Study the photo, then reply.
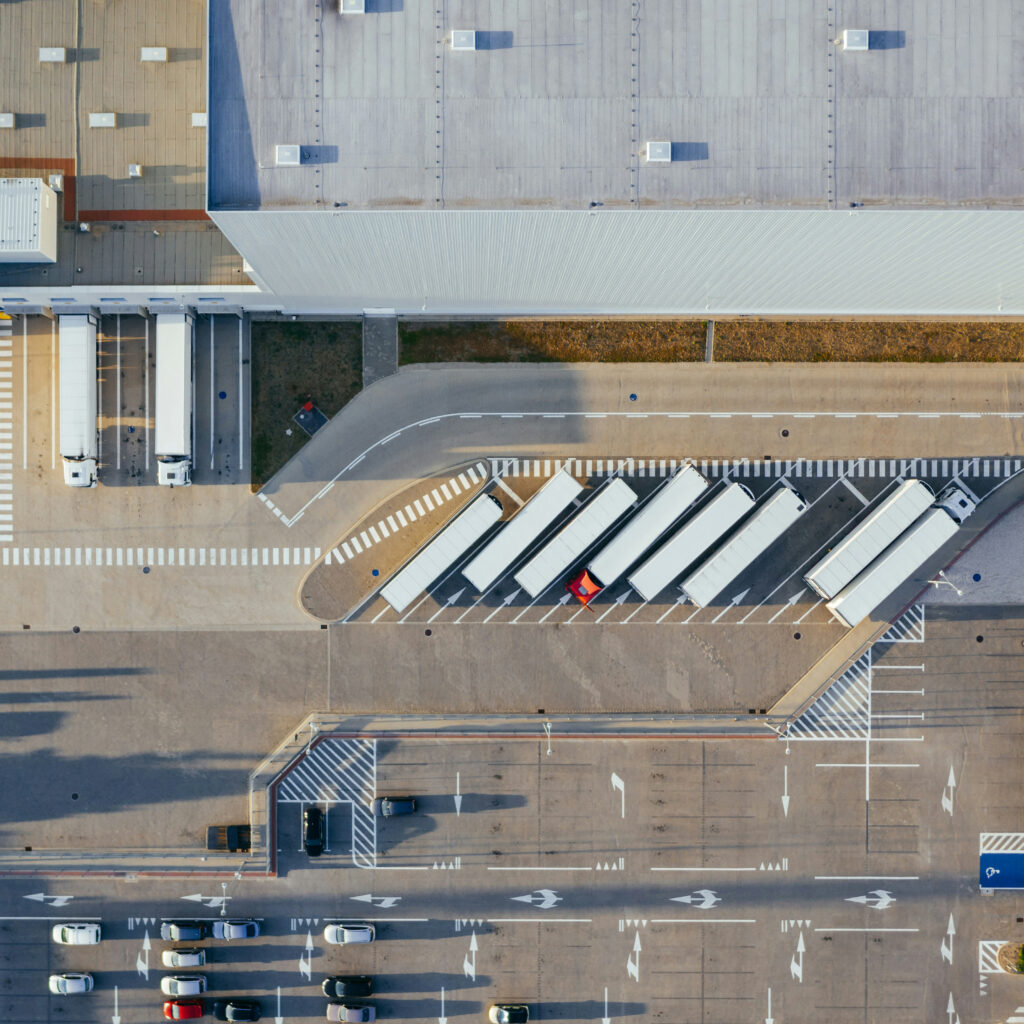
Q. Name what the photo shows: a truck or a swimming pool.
truck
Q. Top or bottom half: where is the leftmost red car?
bottom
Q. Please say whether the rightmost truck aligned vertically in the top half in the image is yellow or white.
white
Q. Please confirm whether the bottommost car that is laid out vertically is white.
No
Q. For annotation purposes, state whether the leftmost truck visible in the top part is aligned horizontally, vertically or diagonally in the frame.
vertically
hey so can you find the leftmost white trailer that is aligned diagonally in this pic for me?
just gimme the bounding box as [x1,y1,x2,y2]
[381,492,502,612]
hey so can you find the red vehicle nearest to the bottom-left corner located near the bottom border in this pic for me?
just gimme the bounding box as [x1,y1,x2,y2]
[164,998,206,1022]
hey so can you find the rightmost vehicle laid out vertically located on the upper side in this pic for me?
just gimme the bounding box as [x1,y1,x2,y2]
[157,315,194,486]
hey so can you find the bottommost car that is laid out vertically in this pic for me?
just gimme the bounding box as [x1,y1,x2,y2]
[301,806,325,857]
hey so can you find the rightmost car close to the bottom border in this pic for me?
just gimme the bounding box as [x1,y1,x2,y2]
[489,1001,530,1024]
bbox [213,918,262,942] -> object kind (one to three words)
car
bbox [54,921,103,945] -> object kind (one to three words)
car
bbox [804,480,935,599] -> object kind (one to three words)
trailer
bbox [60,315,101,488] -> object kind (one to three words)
truck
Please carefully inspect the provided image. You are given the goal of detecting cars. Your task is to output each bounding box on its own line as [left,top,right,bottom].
[164,998,206,1022]
[489,1001,530,1024]
[162,919,208,943]
[161,973,208,998]
[214,999,263,1023]
[163,947,207,970]
[325,922,375,946]
[50,972,96,996]
[301,806,325,857]
[54,921,103,945]
[213,918,262,942]
[323,975,373,999]
[370,795,416,818]
[327,1001,376,1024]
